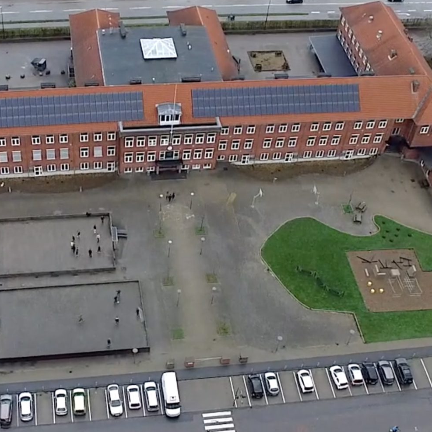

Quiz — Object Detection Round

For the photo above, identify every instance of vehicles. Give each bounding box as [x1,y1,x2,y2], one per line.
[360,362,380,387]
[262,372,280,397]
[160,369,183,419]
[345,362,366,389]
[247,374,265,400]
[70,389,85,417]
[52,389,68,417]
[375,360,398,388]
[106,385,124,417]
[17,392,33,423]
[392,358,415,386]
[141,382,159,412]
[328,363,350,393]
[295,367,316,397]
[125,385,141,411]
